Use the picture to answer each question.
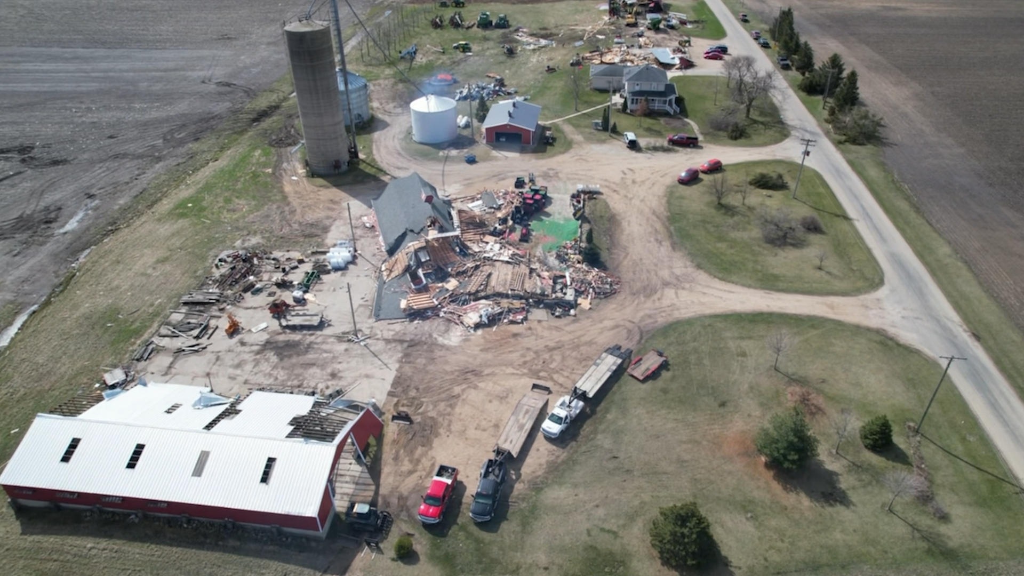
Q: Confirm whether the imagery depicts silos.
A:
Yes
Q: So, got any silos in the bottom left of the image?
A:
No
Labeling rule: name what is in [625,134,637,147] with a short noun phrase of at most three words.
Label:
vehicle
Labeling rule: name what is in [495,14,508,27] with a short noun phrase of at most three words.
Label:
vehicle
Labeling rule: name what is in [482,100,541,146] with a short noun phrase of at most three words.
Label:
building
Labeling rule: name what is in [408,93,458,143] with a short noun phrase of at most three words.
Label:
silo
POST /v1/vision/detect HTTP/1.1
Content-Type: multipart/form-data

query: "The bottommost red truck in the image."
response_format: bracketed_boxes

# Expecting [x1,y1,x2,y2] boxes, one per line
[418,462,460,525]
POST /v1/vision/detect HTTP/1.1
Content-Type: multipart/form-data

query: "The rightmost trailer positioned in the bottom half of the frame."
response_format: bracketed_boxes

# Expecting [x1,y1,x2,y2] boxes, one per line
[627,348,669,379]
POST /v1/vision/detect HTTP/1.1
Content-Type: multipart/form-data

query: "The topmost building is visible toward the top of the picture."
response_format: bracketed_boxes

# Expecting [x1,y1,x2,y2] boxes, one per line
[587,64,686,116]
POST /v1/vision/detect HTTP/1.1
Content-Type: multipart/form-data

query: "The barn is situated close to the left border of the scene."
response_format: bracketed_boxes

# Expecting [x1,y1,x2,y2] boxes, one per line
[0,378,383,540]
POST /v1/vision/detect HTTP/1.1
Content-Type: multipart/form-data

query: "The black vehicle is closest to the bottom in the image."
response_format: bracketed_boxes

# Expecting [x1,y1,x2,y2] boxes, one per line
[342,504,404,544]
